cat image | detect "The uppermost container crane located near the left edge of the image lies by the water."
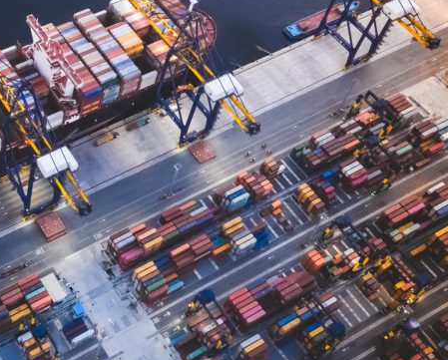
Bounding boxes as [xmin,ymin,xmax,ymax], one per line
[0,57,98,220]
